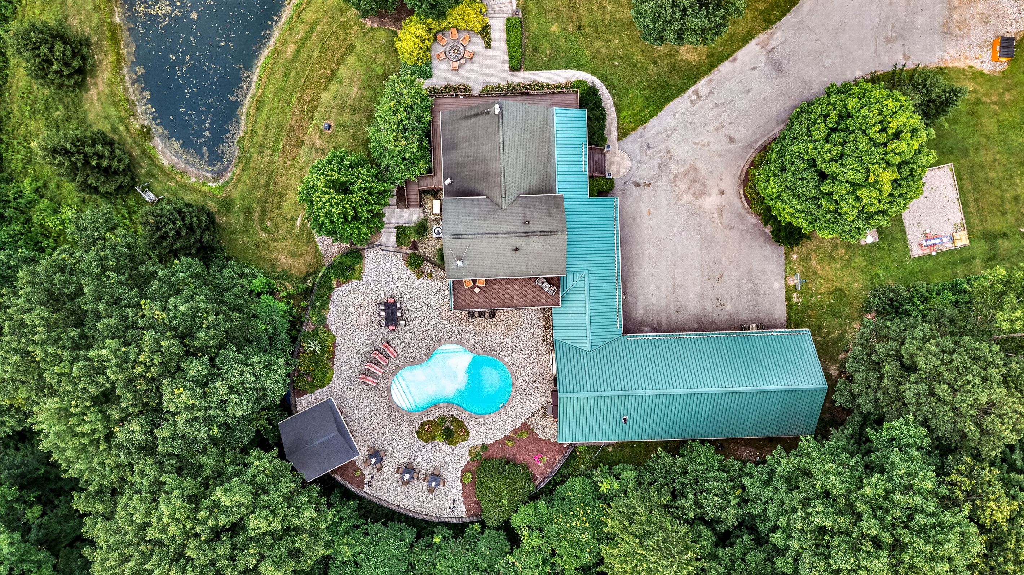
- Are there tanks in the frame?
No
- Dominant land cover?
trees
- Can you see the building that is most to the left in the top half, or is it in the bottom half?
bottom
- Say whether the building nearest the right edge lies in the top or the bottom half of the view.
bottom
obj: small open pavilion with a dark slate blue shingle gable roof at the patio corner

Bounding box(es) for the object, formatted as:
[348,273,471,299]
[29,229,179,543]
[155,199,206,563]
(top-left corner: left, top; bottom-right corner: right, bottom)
[279,394,366,483]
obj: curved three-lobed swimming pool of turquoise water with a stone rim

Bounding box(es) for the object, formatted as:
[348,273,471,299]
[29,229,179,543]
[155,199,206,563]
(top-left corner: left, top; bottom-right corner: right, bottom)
[385,338,518,421]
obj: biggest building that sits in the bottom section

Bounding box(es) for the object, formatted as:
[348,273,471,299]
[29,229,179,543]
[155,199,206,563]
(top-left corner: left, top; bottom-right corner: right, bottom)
[554,328,829,444]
